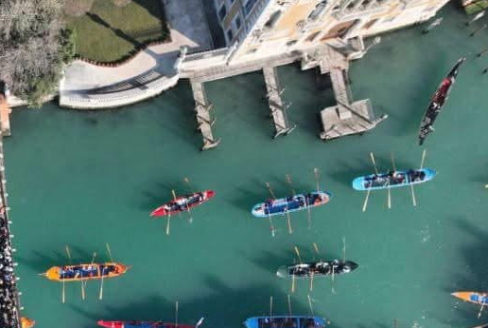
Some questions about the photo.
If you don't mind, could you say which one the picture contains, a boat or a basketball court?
boat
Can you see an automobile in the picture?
No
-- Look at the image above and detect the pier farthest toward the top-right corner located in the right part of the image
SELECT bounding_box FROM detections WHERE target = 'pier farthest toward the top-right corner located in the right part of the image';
[326,71,349,108]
